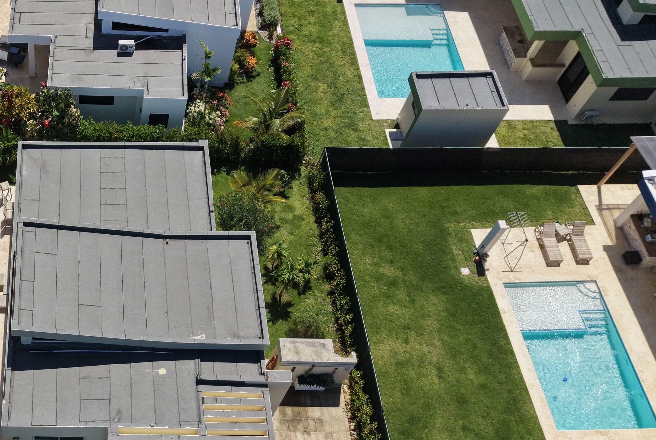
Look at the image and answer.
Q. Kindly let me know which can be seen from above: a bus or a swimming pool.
swimming pool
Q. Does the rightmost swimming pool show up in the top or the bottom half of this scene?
bottom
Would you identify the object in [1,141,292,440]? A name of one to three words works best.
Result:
house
